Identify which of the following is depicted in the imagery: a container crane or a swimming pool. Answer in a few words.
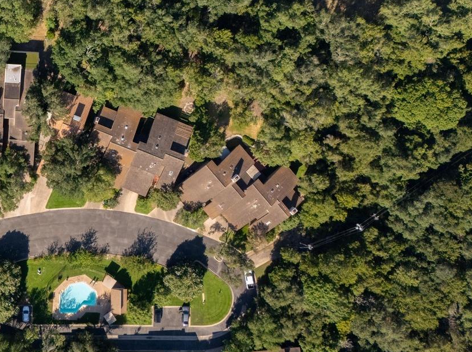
swimming pool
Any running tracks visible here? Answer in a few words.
No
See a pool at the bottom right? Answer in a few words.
No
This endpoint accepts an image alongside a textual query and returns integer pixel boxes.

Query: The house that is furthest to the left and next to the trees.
[0,50,39,167]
